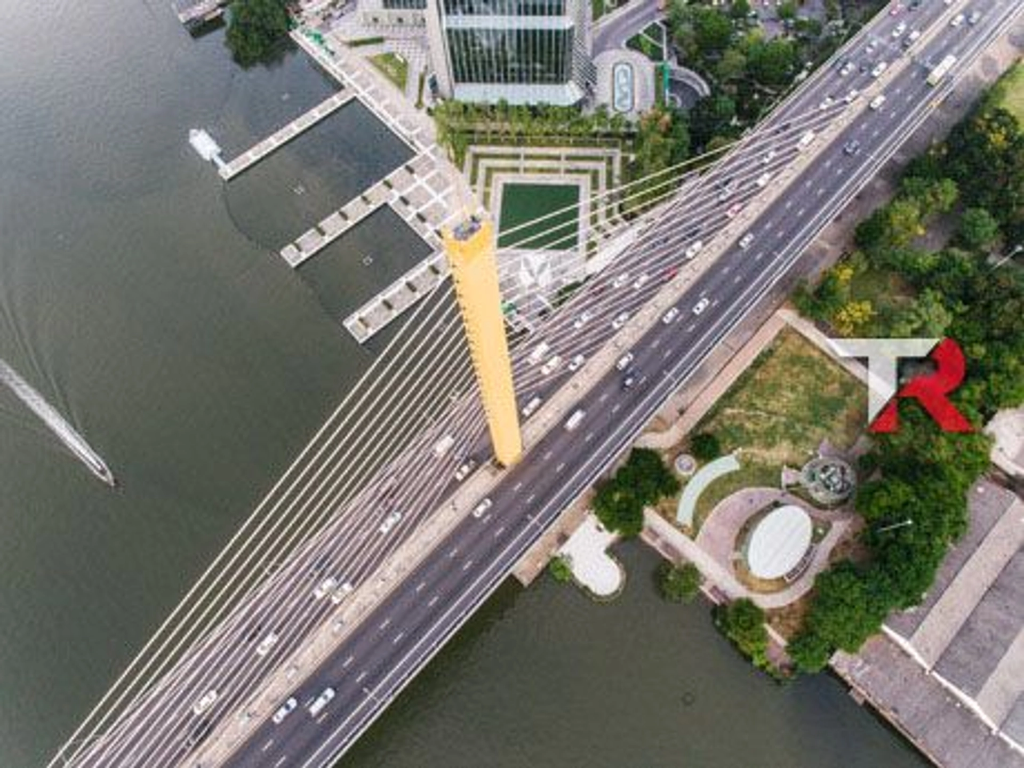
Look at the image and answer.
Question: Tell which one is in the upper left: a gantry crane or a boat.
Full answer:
Looking in the upper left, you will find a boat.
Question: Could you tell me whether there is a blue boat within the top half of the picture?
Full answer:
No, I can find no blue boat within the top half of the picture.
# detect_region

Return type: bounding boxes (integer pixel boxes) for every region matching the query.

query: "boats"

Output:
[188,128,228,168]
[89,455,115,486]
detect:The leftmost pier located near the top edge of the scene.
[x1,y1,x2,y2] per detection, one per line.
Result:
[176,0,232,29]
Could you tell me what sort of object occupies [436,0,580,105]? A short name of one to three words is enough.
building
